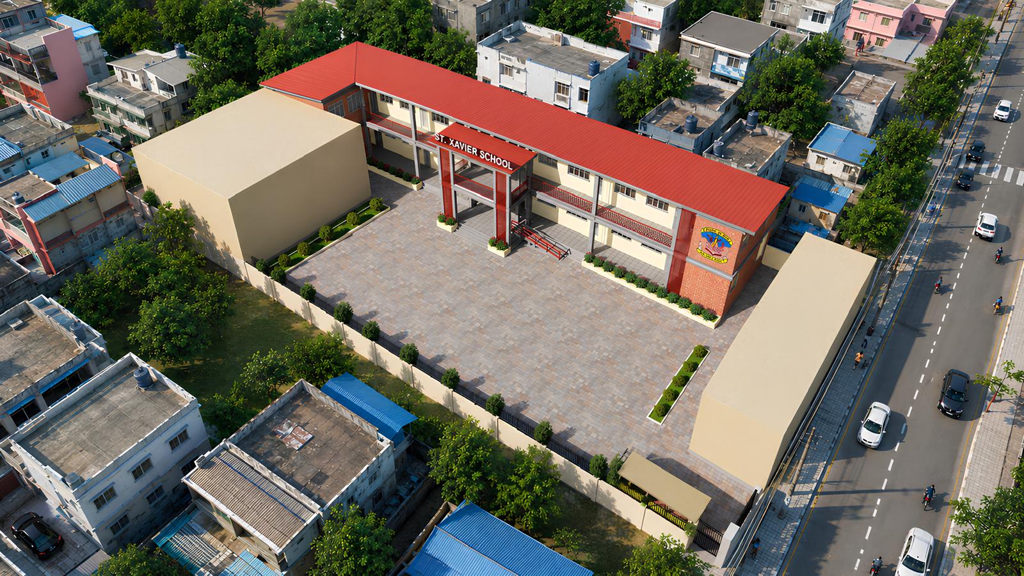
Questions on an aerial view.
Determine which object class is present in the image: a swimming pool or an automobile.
automobile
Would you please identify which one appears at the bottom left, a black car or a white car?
black car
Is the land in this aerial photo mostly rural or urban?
urban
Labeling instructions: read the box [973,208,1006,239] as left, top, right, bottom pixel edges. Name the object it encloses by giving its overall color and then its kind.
white car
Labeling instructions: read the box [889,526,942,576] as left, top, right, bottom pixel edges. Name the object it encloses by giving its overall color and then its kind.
white car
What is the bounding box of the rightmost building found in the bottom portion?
[685,233,877,485]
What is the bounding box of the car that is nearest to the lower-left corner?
[6,502,69,556]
